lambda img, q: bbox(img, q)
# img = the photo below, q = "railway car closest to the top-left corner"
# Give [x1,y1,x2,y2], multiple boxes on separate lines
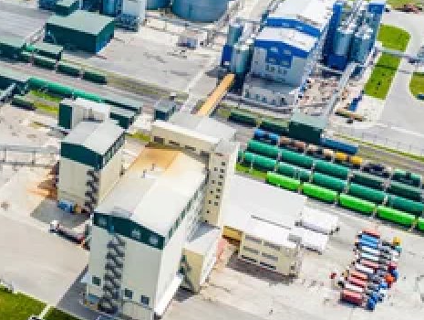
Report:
[21,52,43,66]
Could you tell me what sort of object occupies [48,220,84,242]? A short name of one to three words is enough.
truck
